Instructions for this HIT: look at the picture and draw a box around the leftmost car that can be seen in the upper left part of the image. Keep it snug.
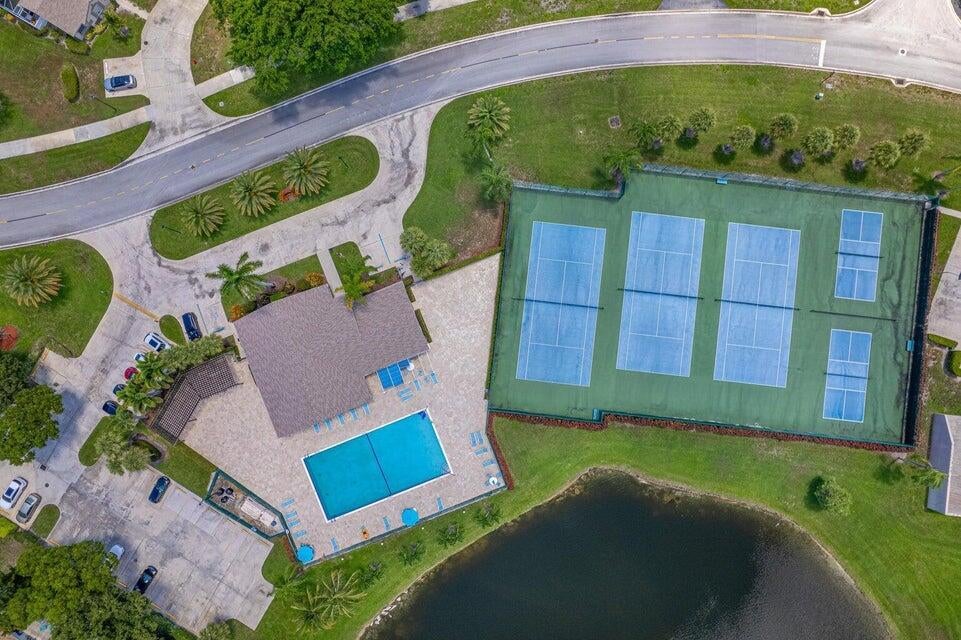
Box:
[103,72,136,90]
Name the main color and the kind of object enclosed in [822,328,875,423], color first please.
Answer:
blue sports court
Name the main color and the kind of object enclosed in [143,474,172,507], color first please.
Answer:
blue car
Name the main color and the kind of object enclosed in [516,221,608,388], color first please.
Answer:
blue tennis court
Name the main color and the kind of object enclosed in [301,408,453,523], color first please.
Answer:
blue swimming pool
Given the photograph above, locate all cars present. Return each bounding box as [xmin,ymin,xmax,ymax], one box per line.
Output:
[178,310,200,340]
[0,478,24,510]
[127,349,152,369]
[103,72,136,90]
[105,380,136,404]
[13,492,40,526]
[131,566,157,594]
[117,365,144,385]
[138,331,173,353]
[97,399,114,420]
[143,474,172,507]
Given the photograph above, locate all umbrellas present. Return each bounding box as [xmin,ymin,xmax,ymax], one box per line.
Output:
[402,508,419,526]
[297,543,315,561]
